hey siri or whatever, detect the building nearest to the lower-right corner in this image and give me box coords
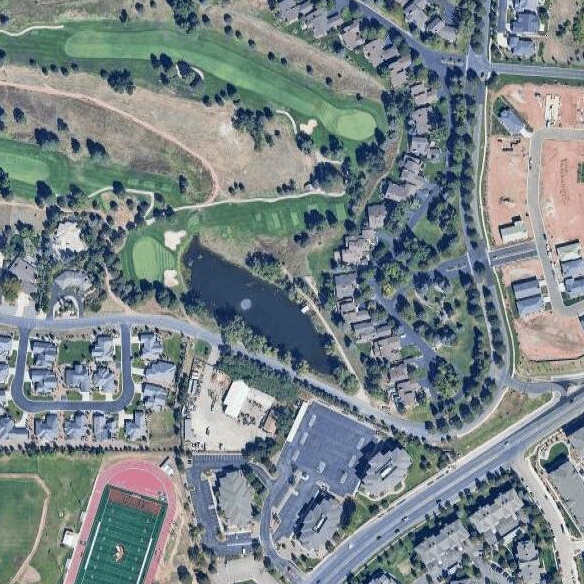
[518,555,542,584]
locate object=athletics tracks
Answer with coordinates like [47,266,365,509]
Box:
[66,463,176,584]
